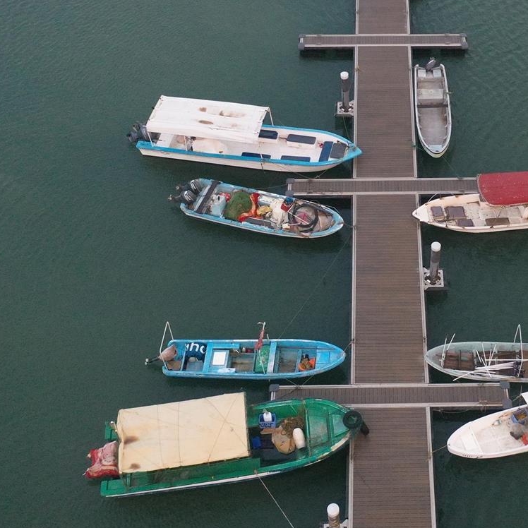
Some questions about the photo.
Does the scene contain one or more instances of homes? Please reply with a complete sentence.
No, the photo shows no home.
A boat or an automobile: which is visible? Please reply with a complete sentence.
This aerial view contains a boat.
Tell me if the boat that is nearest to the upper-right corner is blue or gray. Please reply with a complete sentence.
In this view, the boat that is nearest to the upper-right corner is gray.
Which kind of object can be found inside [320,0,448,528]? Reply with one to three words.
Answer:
pier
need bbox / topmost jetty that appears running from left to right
[298,33,468,55]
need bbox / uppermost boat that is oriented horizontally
[120,97,366,175]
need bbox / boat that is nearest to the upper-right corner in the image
[414,57,453,158]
